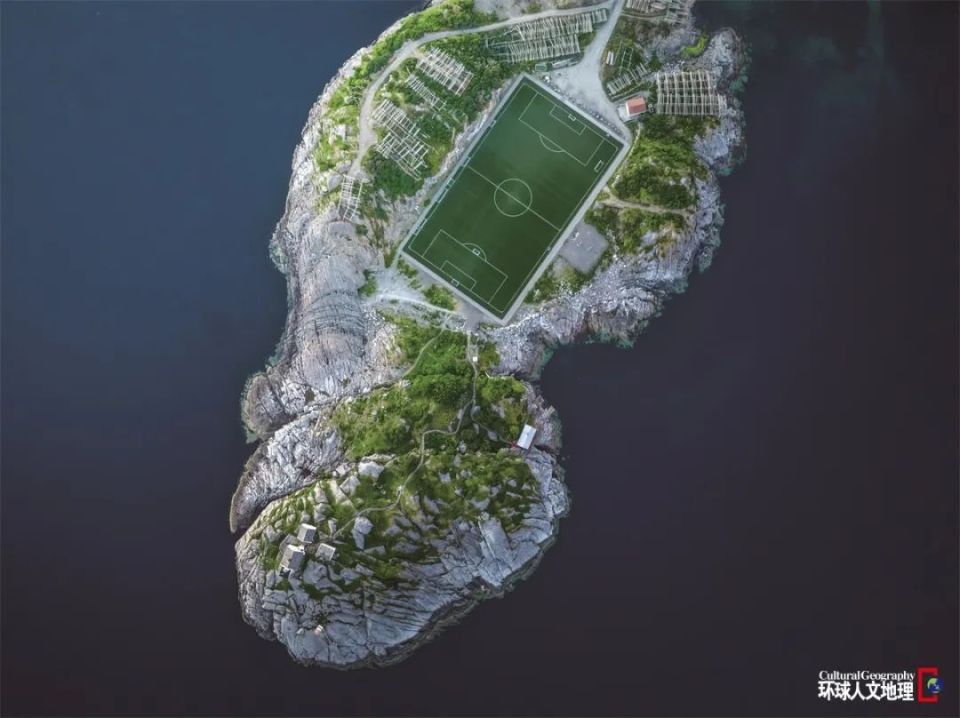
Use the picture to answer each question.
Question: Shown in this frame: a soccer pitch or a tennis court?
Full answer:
I can see a soccer pitch in this picture.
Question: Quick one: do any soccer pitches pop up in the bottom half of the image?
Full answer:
No, there is no soccer pitch in the bottom half of the image.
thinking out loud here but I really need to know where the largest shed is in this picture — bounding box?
[280,545,306,572]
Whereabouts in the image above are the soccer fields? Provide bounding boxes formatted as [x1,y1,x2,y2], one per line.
[398,71,631,326]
